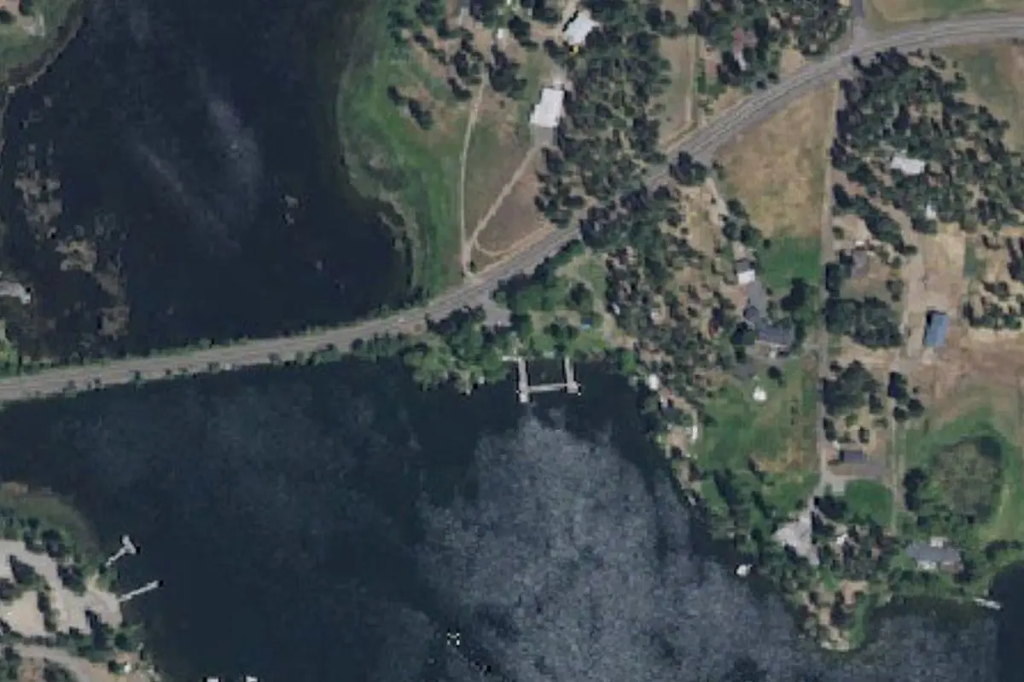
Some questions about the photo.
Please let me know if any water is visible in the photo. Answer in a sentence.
Yes, water can be seen from above here.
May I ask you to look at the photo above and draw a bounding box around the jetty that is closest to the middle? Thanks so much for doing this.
[503,356,581,401]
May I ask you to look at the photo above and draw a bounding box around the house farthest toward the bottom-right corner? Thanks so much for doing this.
[907,536,962,577]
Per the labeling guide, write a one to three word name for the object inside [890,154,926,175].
house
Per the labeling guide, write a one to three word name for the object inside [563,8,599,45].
house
